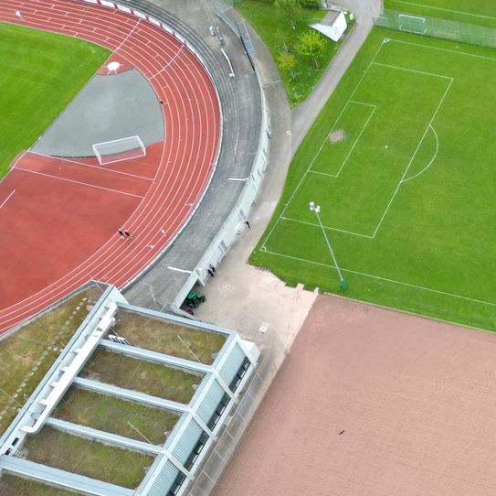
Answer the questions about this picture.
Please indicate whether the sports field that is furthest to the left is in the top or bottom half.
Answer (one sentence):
It is in the top half that the sports field that is furthest to the left appears.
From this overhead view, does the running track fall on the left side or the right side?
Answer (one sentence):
You can find the running track on the left side of the picture.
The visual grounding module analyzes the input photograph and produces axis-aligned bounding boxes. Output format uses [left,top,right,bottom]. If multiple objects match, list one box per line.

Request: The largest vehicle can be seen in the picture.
[181,285,210,305]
